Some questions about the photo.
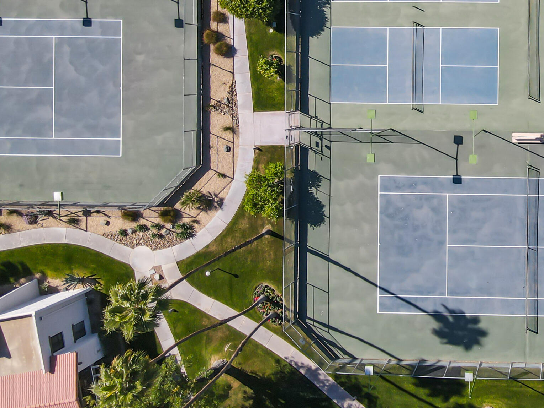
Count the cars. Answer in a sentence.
No cars are visible.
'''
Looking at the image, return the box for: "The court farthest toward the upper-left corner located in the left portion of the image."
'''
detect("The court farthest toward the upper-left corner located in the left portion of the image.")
[0,19,121,156]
